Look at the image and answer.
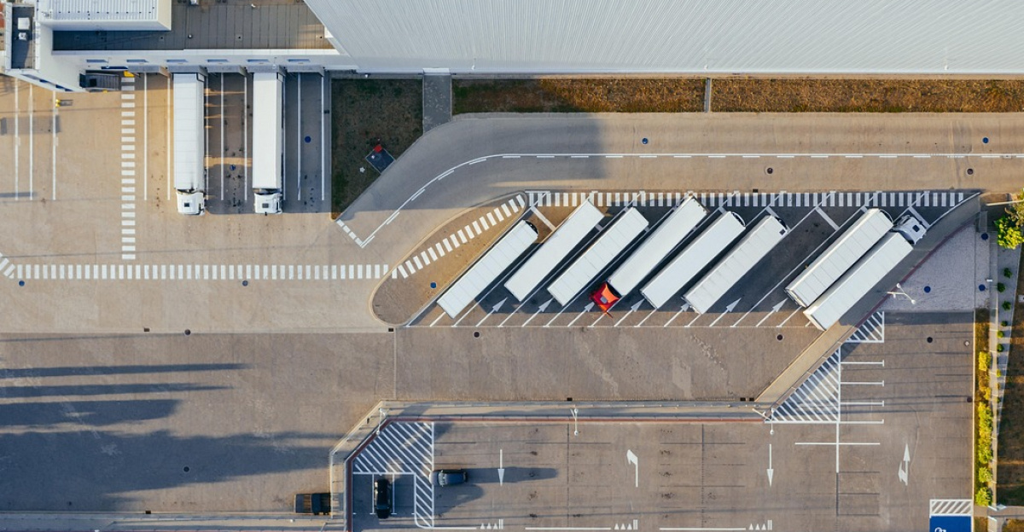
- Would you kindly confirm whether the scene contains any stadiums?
No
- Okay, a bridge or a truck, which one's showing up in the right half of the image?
truck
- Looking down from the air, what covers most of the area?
paved ground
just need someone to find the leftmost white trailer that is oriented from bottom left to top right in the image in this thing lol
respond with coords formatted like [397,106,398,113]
[438,219,540,318]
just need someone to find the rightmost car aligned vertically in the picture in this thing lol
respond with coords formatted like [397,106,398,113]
[373,479,392,520]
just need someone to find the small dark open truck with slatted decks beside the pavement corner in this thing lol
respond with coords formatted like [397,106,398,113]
[293,494,329,518]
